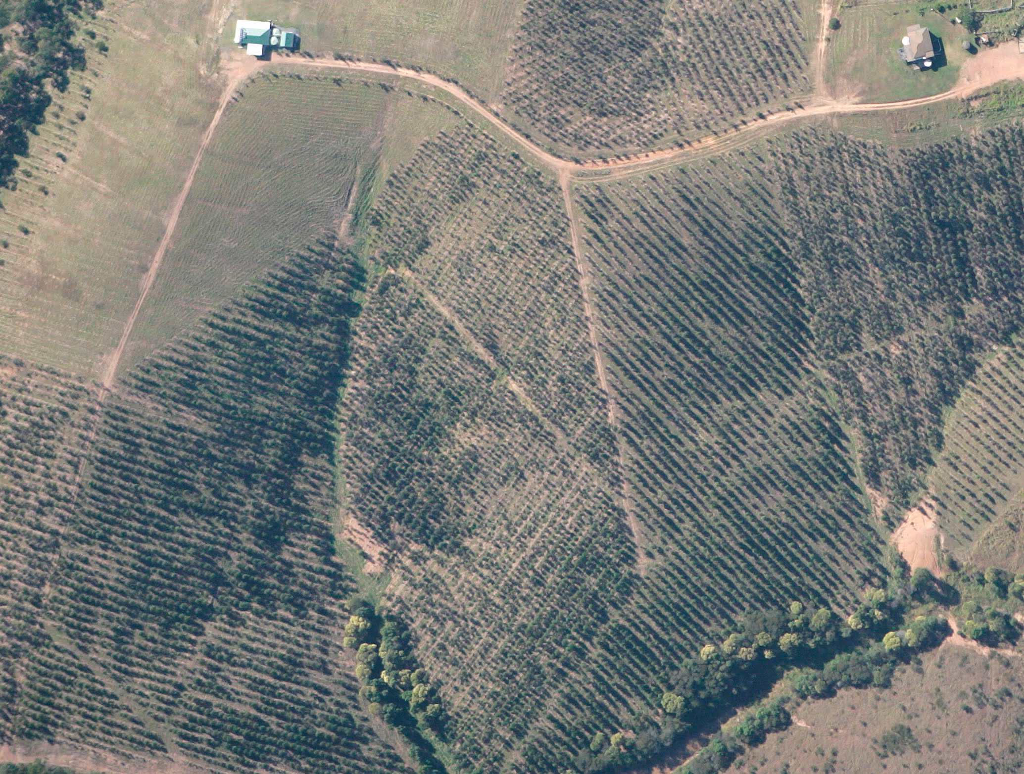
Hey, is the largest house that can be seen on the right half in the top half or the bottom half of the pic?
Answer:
top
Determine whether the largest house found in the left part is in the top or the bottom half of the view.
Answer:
top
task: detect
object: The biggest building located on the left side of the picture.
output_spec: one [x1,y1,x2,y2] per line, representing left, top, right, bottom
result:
[235,20,271,45]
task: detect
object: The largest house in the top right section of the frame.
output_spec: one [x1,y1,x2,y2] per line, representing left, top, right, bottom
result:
[904,24,934,68]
